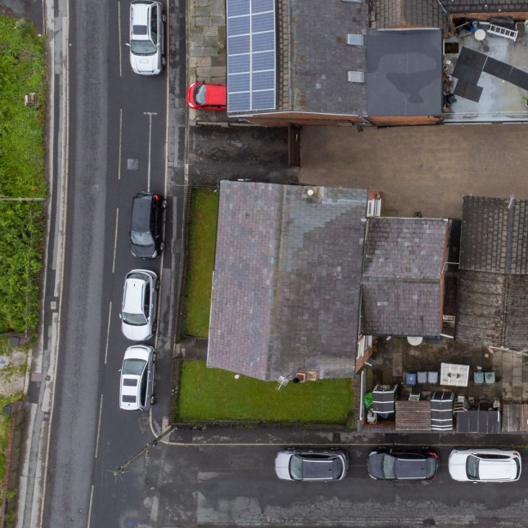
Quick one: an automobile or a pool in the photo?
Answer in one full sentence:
Looking from above, you can make out an automobile.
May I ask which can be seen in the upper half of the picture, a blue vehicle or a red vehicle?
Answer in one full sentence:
Looking in the upper half of the picture, you will find a red vehicle.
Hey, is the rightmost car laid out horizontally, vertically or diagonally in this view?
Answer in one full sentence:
The rightmost car is oriented horizontally.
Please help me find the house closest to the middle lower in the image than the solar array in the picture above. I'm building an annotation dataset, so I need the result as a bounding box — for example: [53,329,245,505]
[206,180,377,384]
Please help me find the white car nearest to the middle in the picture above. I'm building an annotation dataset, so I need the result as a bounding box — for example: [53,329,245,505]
[121,270,159,340]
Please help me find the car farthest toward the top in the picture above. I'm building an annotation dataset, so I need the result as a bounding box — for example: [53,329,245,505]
[129,0,169,75]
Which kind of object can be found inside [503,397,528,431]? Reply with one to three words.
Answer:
shed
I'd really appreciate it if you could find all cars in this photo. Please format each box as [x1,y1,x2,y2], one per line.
[187,79,225,111]
[277,446,348,483]
[121,270,159,340]
[130,192,167,257]
[120,344,157,409]
[129,0,169,75]
[451,447,521,482]
[369,445,437,481]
